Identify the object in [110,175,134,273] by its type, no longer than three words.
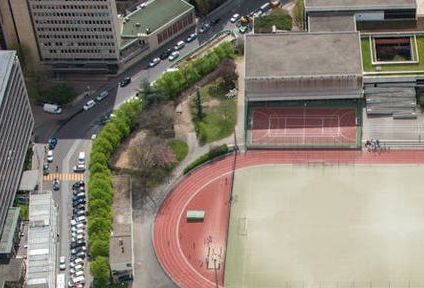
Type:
building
